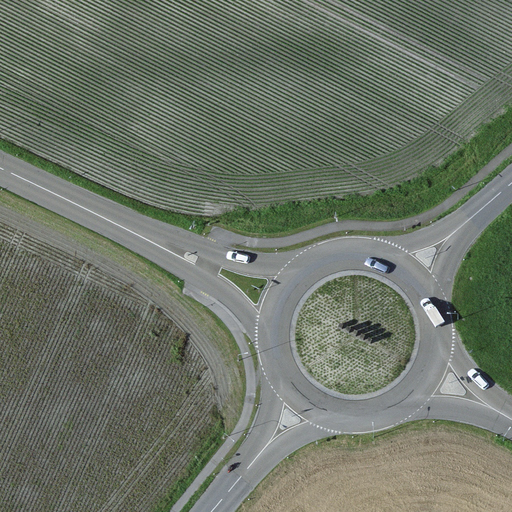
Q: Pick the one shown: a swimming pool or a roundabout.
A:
roundabout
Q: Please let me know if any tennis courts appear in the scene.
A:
No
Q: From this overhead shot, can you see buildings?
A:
No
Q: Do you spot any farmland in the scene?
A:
Yes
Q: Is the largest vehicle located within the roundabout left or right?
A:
right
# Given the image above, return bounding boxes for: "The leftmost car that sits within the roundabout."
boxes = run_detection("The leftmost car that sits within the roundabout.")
[366,258,388,273]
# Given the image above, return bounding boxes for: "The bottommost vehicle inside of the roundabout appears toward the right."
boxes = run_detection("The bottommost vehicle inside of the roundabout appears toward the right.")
[421,298,445,328]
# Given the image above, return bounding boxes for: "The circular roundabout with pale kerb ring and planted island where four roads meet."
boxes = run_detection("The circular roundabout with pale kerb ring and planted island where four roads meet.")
[255,236,455,434]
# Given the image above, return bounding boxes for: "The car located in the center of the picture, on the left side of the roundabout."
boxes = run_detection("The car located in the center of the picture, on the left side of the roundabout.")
[226,251,250,263]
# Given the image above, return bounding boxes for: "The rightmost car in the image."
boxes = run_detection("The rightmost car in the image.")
[468,369,490,390]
